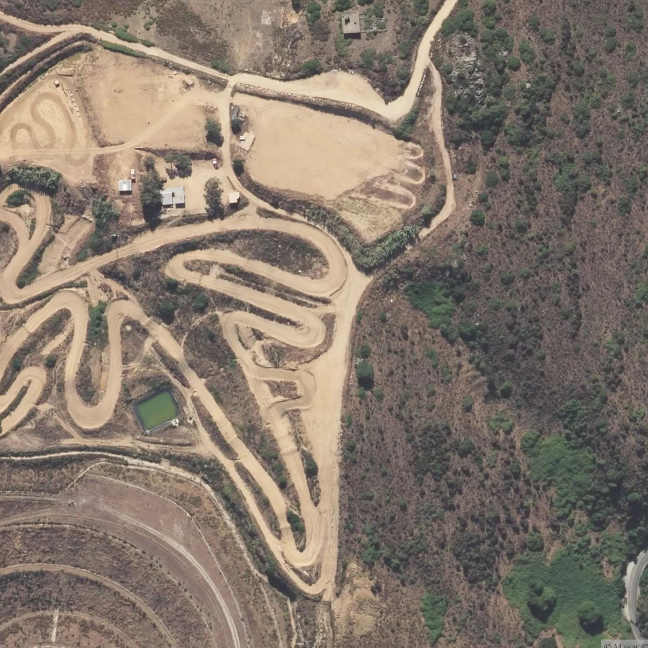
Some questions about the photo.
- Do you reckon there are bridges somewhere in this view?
No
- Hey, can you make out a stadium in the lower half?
No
